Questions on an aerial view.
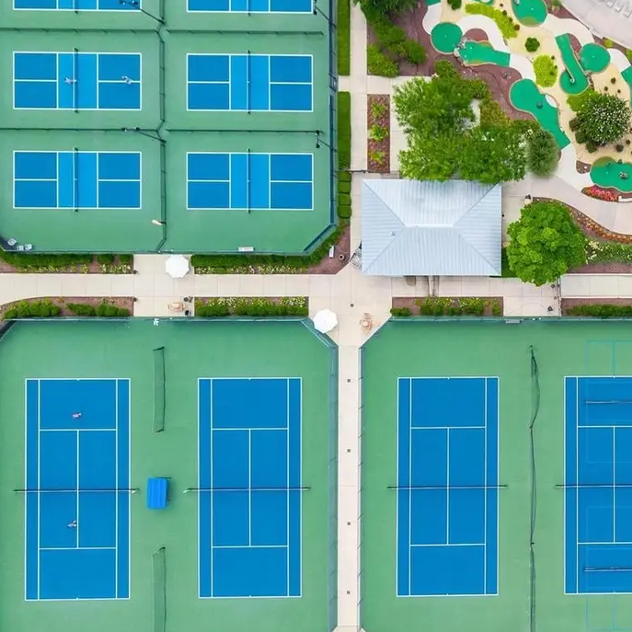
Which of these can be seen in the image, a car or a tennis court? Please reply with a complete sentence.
Of the two, only a tennis court appears.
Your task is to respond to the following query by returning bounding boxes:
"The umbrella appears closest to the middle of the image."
[313,309,338,333]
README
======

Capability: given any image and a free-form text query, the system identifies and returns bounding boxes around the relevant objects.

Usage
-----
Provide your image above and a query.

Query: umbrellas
[313,309,338,333]
[167,254,192,278]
